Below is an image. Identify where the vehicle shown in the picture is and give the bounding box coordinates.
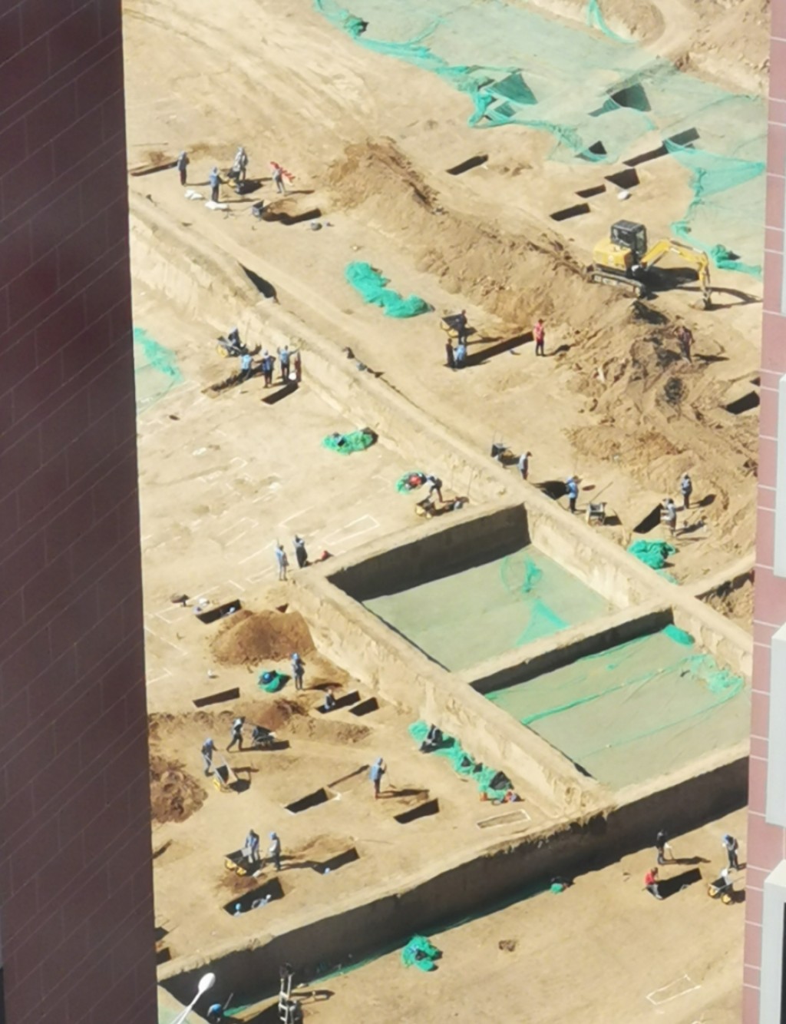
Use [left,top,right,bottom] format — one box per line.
[590,218,719,300]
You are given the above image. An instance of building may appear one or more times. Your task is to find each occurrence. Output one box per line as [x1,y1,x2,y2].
[0,0,157,1024]
[742,0,786,1024]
